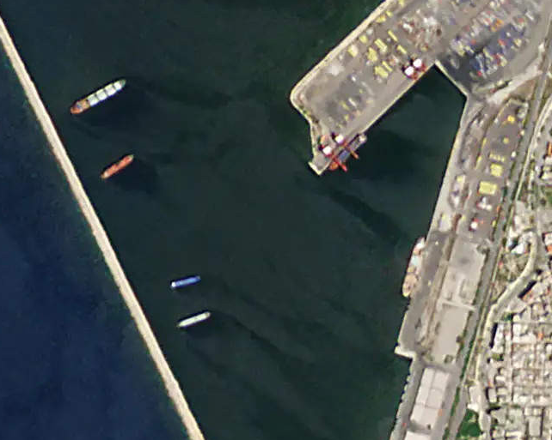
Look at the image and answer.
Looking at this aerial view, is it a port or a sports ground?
port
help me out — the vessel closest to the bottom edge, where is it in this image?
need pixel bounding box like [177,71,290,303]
[178,312,211,327]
